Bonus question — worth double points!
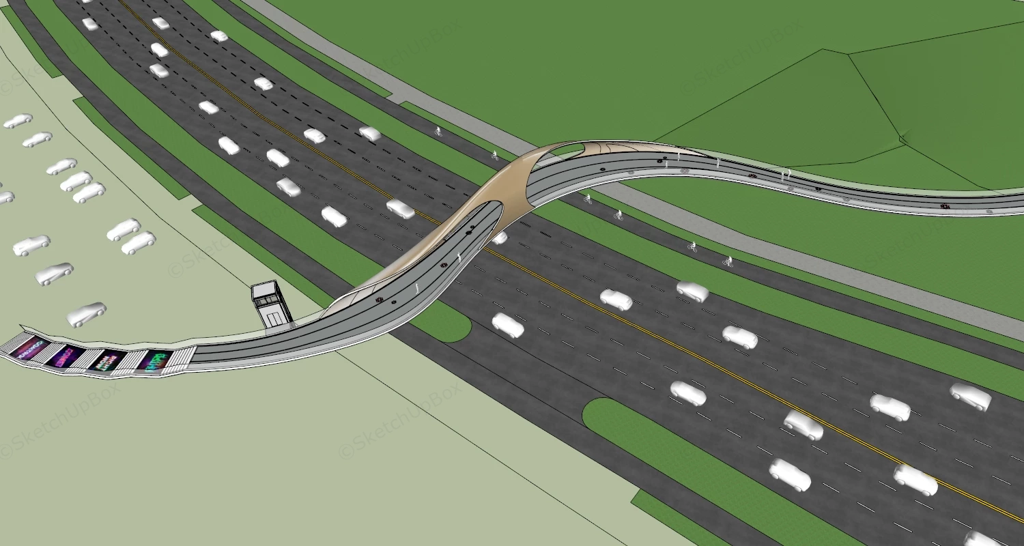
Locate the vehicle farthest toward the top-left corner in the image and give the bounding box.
[83,18,98,30]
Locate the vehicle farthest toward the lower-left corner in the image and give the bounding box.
[66,303,105,328]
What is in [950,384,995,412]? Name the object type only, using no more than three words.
vehicle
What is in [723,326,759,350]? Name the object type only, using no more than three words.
car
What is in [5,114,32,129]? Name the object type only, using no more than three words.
car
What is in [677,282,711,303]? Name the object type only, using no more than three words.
vehicle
